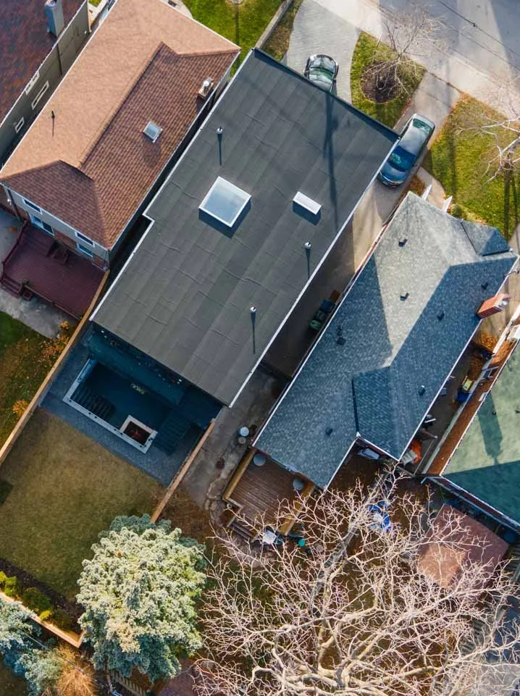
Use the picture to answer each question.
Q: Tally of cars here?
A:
2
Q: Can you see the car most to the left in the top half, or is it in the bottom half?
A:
top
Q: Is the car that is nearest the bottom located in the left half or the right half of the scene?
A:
right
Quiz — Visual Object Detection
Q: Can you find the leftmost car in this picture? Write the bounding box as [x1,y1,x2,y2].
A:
[304,50,343,98]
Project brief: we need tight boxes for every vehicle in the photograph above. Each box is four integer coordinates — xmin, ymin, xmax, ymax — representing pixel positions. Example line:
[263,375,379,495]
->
[304,50,343,98]
[374,110,440,194]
